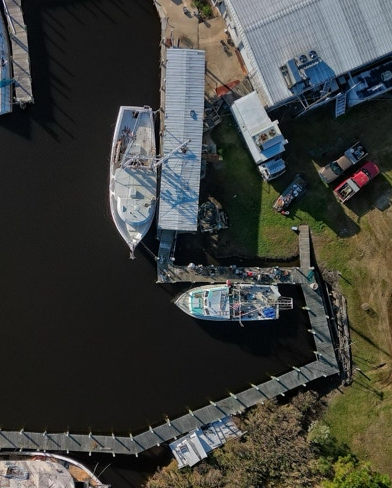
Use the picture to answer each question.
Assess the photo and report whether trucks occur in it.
Yes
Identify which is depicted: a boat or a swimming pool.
boat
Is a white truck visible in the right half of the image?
Yes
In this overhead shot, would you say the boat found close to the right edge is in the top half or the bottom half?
top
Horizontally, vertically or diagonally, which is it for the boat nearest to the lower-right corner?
horizontally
